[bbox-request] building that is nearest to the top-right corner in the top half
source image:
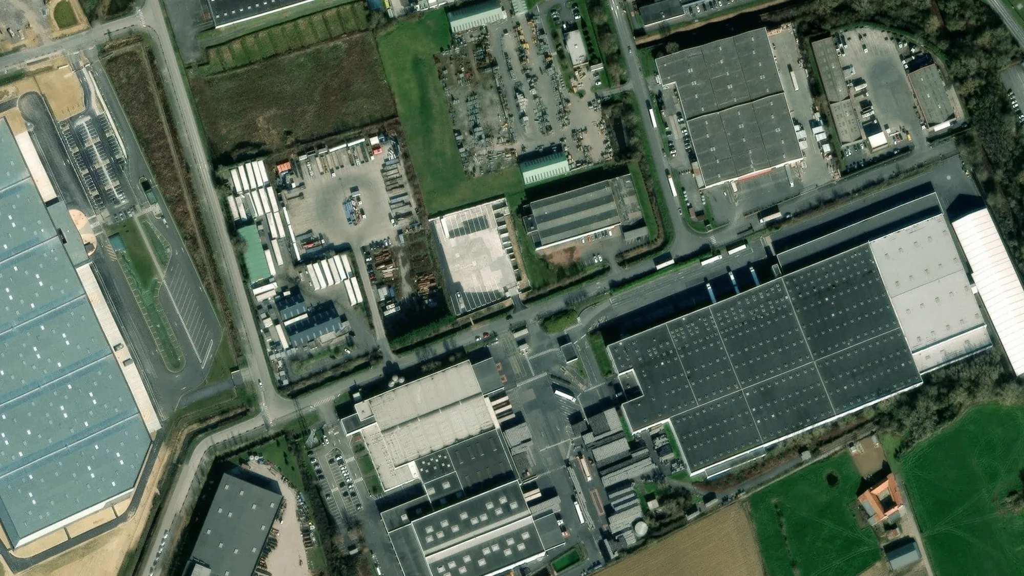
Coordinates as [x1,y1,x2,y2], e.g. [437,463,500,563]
[907,64,956,129]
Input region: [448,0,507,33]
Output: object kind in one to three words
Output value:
shed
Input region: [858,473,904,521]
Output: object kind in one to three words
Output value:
house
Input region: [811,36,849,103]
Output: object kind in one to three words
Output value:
building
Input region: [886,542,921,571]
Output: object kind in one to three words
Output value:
barn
